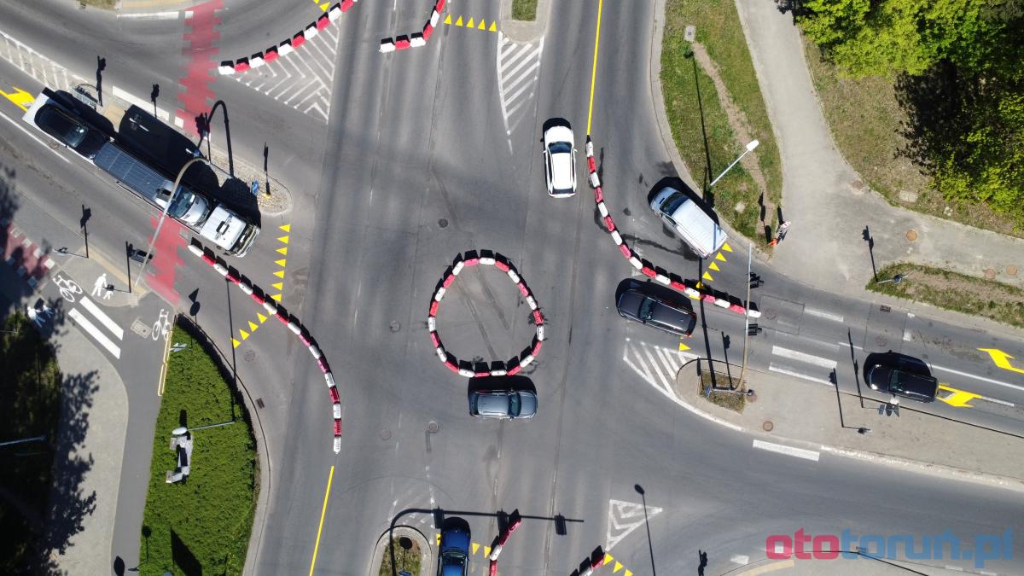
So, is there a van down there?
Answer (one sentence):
Yes, you can see a van in this photo.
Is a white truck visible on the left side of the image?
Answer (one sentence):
Yes, looking on the left side of the image, one can make out a white truck.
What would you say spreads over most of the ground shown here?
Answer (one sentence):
The bulk of the photo consists of paved ground.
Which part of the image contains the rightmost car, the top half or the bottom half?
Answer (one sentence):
The rightmost car is in the bottom half of the image.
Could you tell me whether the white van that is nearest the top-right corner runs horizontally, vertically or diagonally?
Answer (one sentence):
The white van that is nearest the top-right corner is oriented diagonally.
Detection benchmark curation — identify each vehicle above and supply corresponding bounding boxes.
[540,127,579,198]
[863,364,937,405]
[649,195,730,260]
[469,385,537,423]
[21,92,261,259]
[29,98,104,157]
[436,529,475,576]
[618,291,697,340]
